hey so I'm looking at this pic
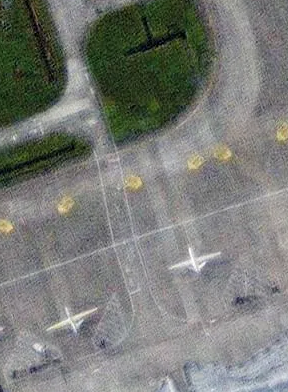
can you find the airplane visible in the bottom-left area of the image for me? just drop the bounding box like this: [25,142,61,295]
[47,308,96,335]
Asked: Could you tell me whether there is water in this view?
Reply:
No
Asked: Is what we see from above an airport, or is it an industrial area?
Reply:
airport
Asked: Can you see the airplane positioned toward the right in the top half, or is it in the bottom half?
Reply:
bottom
